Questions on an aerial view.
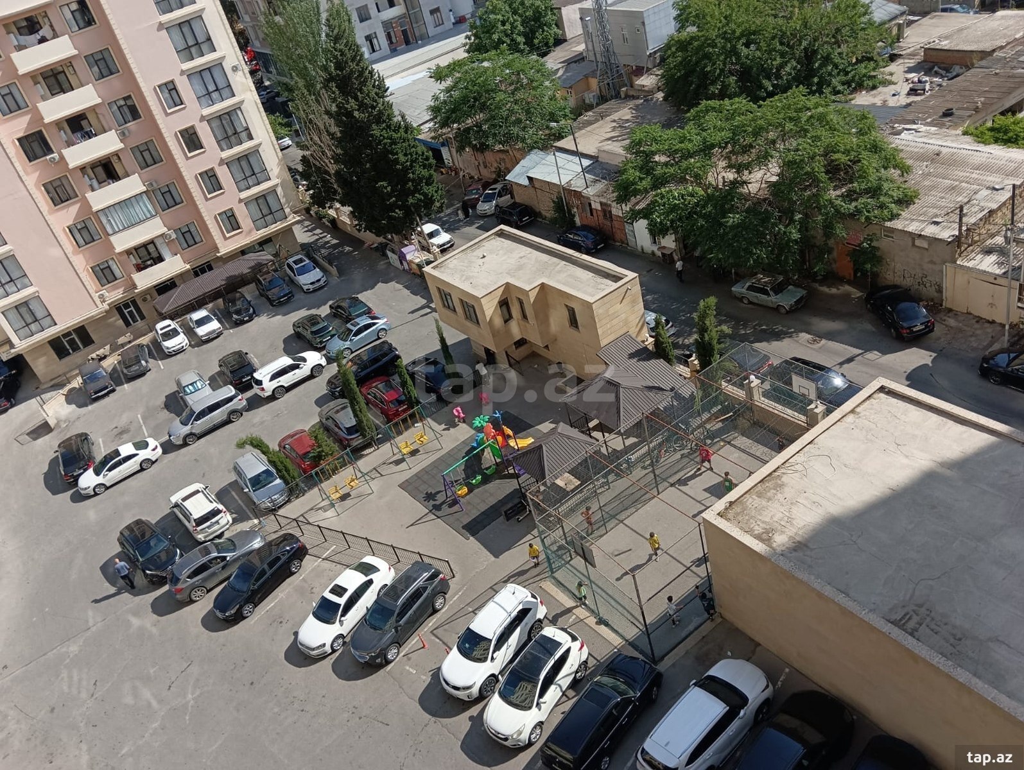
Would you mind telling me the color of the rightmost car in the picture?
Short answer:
black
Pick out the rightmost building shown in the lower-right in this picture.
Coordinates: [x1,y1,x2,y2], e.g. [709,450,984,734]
[700,378,1024,770]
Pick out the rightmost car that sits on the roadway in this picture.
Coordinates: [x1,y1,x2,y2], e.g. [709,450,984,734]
[958,345,1024,392]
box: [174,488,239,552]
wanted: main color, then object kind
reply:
white car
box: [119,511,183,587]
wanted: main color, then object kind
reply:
black car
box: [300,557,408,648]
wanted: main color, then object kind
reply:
white car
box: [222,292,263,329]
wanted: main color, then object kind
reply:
black car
